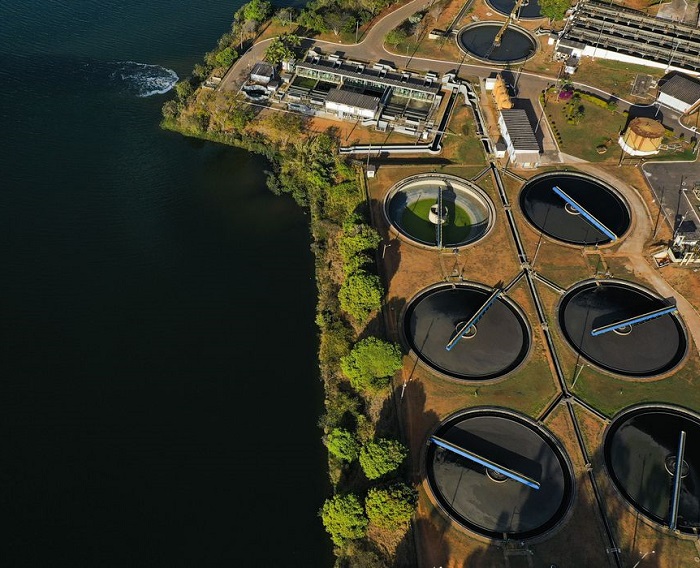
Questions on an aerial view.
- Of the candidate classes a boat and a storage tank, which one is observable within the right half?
storage tank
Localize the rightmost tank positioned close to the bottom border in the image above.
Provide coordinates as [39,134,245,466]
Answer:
[597,398,700,541]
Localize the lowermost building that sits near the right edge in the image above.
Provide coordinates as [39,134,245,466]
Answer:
[669,231,700,264]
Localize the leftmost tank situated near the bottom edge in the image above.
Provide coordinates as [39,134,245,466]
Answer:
[418,403,578,550]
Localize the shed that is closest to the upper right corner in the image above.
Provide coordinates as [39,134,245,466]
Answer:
[657,70,700,116]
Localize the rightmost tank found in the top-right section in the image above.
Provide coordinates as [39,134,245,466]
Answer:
[623,112,670,151]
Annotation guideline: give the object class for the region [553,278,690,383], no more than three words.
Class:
storage tank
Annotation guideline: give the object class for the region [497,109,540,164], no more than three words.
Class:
building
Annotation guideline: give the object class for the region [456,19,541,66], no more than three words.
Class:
storage tank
